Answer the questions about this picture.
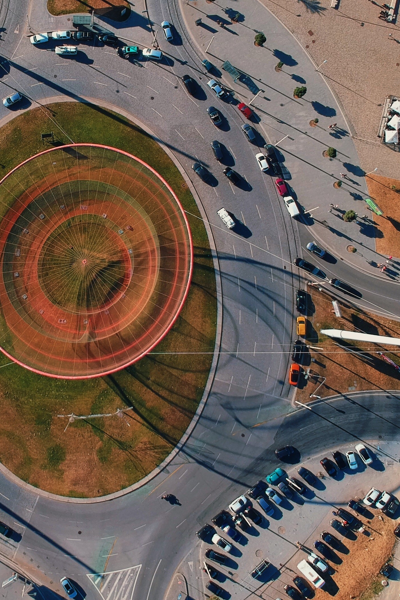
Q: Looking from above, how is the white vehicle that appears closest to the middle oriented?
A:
diagonally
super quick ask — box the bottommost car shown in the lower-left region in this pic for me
[60,579,74,596]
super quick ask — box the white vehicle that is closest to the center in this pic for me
[215,207,236,230]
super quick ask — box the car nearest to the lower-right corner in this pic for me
[379,564,395,578]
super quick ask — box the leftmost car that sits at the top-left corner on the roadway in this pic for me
[4,92,21,108]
